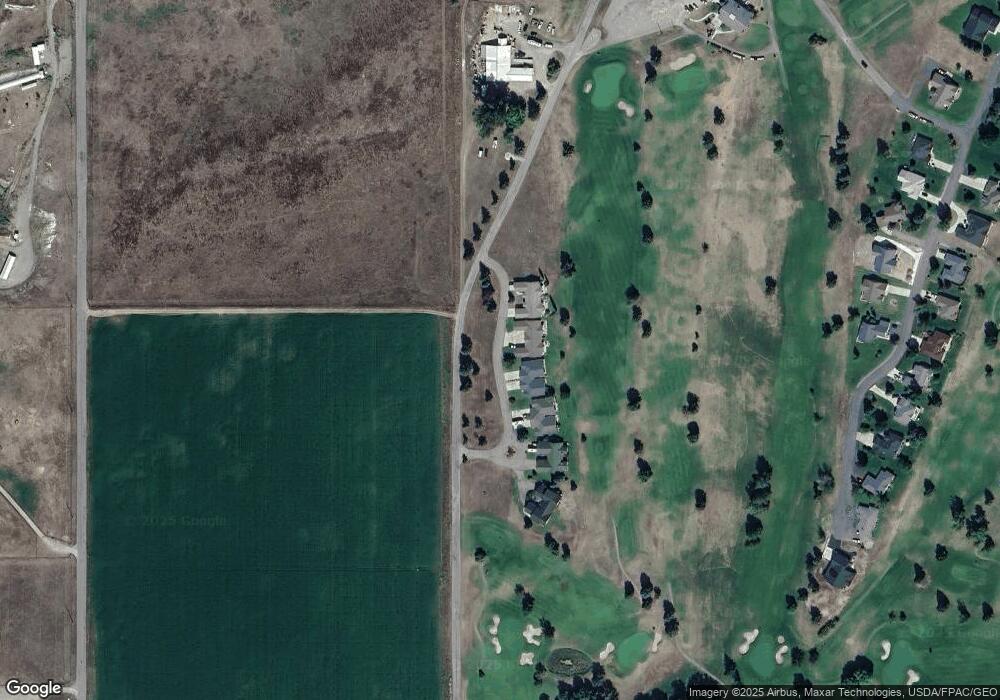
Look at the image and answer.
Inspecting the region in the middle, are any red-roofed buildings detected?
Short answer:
No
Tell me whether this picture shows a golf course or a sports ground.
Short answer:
golf course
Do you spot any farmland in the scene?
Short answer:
Yes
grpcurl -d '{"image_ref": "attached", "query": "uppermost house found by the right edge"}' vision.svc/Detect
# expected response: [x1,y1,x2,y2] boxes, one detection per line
[962,6,1000,41]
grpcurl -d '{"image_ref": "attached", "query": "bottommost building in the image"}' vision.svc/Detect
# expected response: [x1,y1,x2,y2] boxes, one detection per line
[821,545,858,590]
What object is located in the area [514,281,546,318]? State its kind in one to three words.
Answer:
house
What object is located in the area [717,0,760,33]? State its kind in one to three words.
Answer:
building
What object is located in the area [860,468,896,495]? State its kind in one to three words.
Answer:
house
